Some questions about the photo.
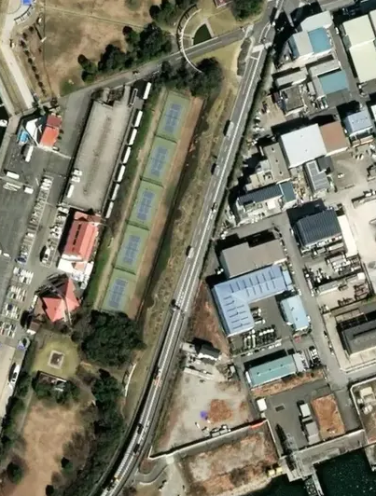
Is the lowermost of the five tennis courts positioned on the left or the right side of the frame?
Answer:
left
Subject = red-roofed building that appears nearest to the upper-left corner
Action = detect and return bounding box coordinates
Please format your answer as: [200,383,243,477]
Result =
[38,114,62,149]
